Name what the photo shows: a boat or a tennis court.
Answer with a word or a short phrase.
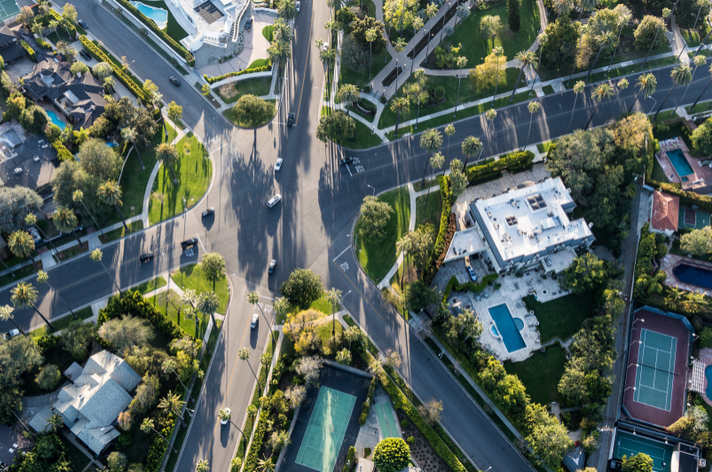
tennis court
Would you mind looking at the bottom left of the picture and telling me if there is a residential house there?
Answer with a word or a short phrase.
Yes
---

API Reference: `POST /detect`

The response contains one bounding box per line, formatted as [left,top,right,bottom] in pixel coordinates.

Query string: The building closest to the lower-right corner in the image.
[669,443,700,472]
